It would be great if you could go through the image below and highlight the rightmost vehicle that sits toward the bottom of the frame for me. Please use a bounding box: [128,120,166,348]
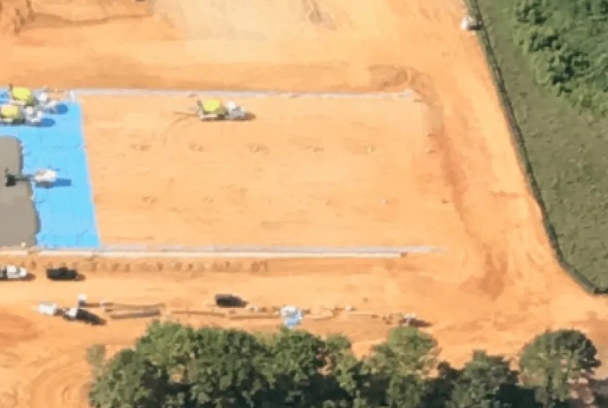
[213,294,242,309]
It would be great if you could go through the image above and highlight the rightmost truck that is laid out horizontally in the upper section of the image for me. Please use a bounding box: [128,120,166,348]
[190,97,244,120]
